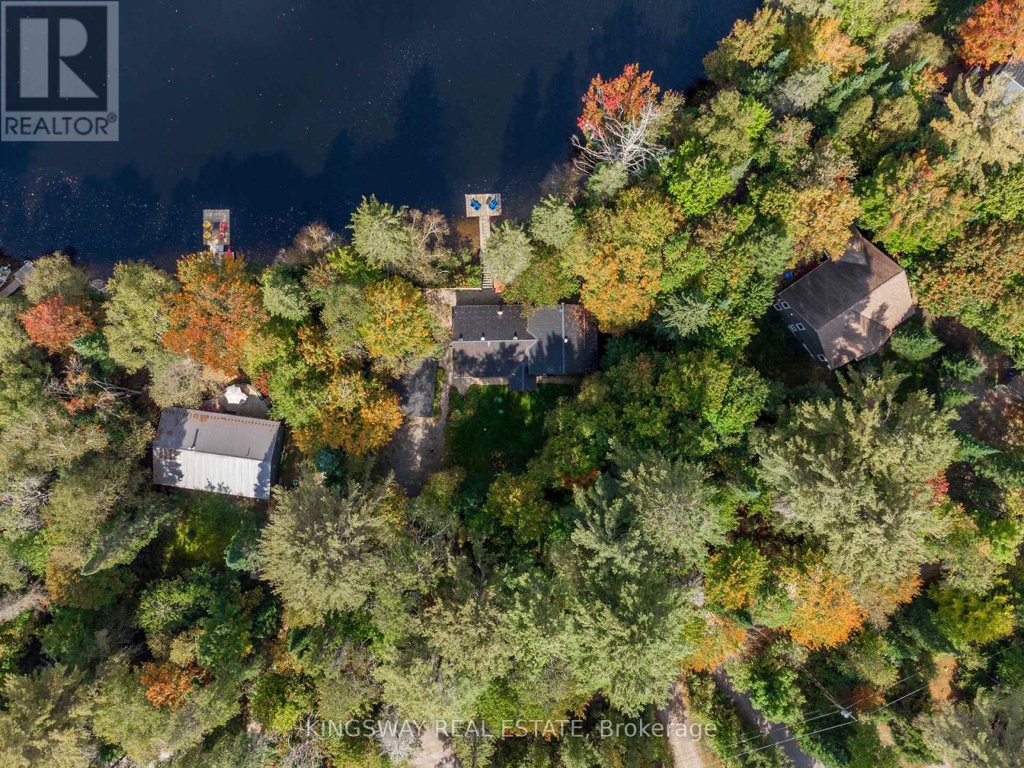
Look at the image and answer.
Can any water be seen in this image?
Yes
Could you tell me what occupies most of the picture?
trees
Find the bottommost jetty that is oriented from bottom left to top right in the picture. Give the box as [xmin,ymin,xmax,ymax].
[2,256,45,290]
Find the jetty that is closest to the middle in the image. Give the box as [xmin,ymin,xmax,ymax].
[466,194,501,269]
